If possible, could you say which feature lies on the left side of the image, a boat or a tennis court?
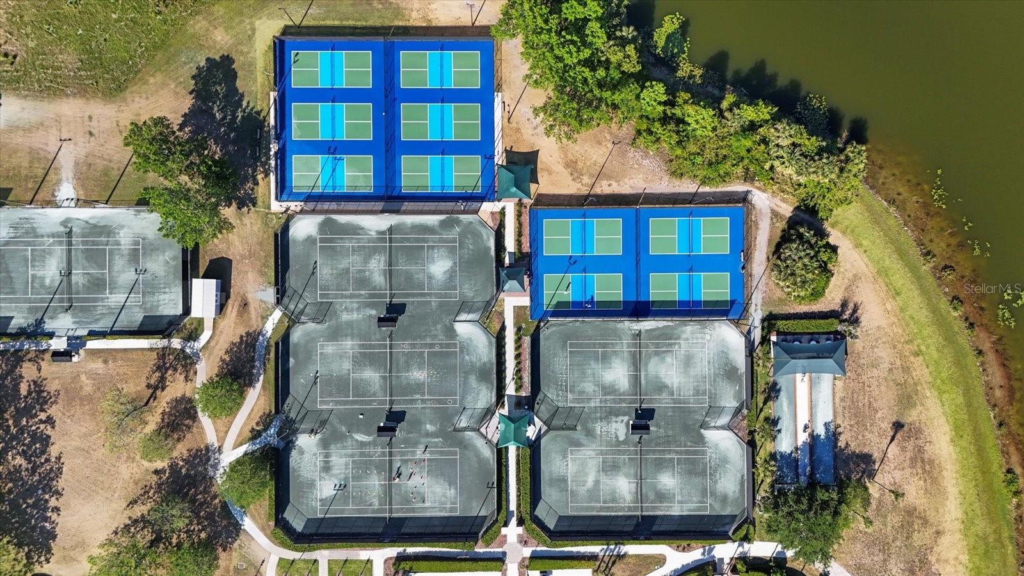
tennis court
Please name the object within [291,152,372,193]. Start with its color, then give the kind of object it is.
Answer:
green sports court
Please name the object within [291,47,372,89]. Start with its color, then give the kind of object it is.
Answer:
green sports court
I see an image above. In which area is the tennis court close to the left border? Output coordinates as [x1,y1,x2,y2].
[0,233,141,310]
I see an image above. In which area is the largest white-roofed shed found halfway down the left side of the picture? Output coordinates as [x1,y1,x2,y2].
[192,279,226,318]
